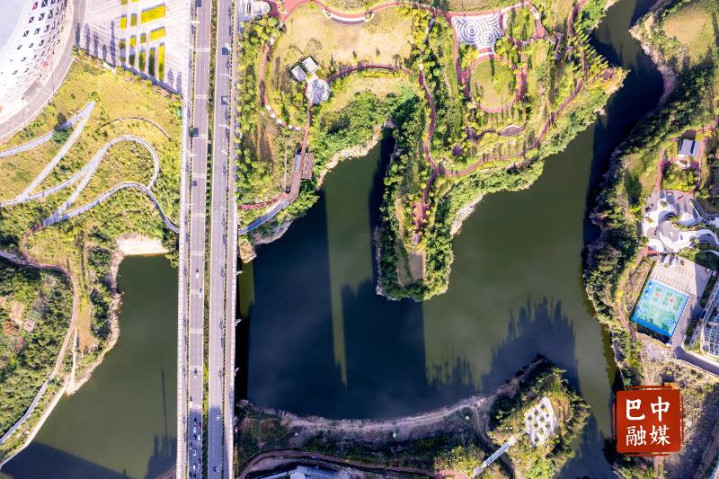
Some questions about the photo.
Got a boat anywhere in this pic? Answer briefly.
No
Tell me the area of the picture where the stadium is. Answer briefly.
top left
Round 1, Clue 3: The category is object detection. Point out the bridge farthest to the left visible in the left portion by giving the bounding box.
[175,0,243,479]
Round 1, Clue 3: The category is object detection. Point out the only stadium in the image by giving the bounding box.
[0,0,66,110]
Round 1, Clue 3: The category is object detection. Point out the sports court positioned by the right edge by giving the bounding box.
[632,279,691,338]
